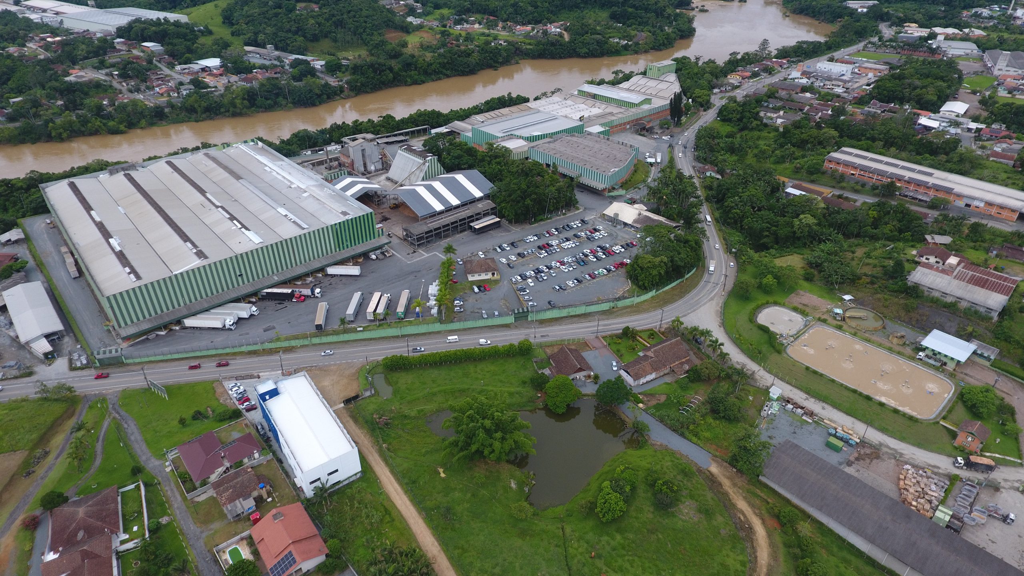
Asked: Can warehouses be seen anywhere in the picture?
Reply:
Yes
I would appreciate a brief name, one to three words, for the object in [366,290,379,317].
vehicle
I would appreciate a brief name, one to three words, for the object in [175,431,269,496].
house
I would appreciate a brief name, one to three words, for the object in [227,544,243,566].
swimming pool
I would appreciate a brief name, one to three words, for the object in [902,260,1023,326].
building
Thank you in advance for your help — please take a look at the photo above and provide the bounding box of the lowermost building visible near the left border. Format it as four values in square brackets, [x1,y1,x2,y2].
[42,480,133,576]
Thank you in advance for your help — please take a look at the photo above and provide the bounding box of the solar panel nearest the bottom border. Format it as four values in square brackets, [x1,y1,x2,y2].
[267,551,294,576]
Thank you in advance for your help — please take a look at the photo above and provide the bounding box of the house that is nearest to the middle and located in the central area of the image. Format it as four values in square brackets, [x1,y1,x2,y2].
[460,259,504,284]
